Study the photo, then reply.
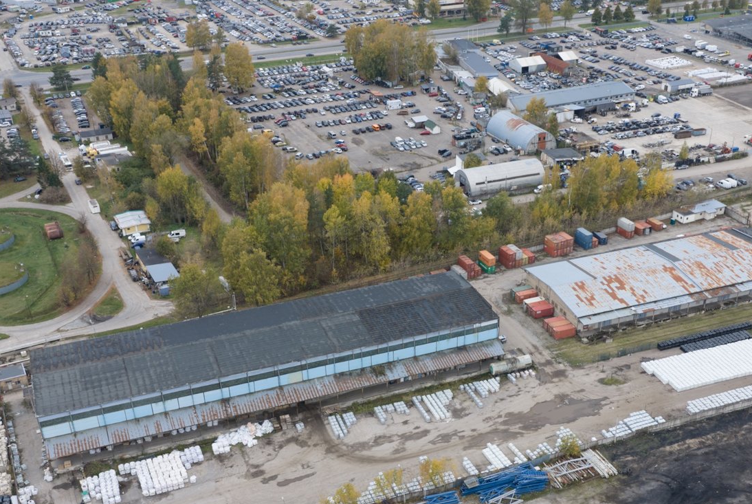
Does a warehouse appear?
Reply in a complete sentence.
Yes, a warehouse appears in the view.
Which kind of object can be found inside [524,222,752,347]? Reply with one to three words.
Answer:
warehouse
